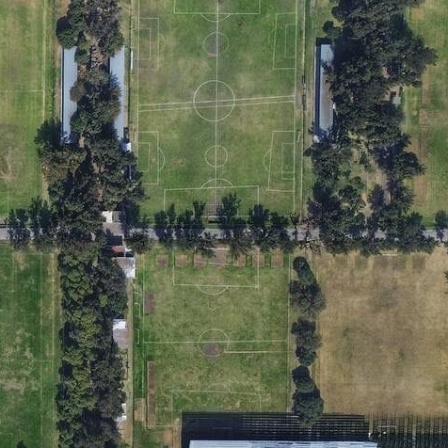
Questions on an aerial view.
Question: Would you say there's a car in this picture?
No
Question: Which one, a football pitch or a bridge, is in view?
football pitch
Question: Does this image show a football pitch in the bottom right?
Yes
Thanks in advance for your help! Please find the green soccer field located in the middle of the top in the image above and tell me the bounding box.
[127,0,308,225]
